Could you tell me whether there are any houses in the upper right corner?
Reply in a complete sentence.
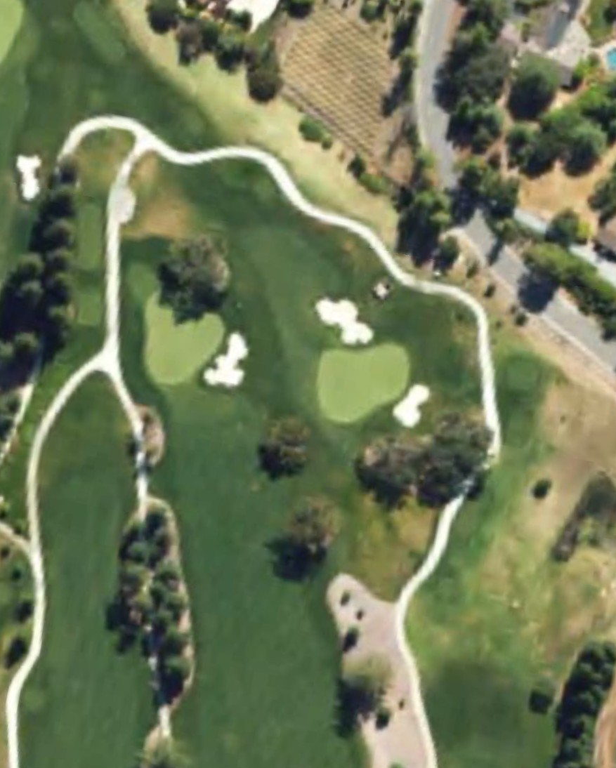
Yes, there is a house in the upper right corner.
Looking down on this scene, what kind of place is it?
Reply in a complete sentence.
This looks like a golf course.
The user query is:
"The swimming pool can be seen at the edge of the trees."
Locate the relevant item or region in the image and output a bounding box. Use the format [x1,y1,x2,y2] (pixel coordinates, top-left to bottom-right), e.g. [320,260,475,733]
[602,41,616,75]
